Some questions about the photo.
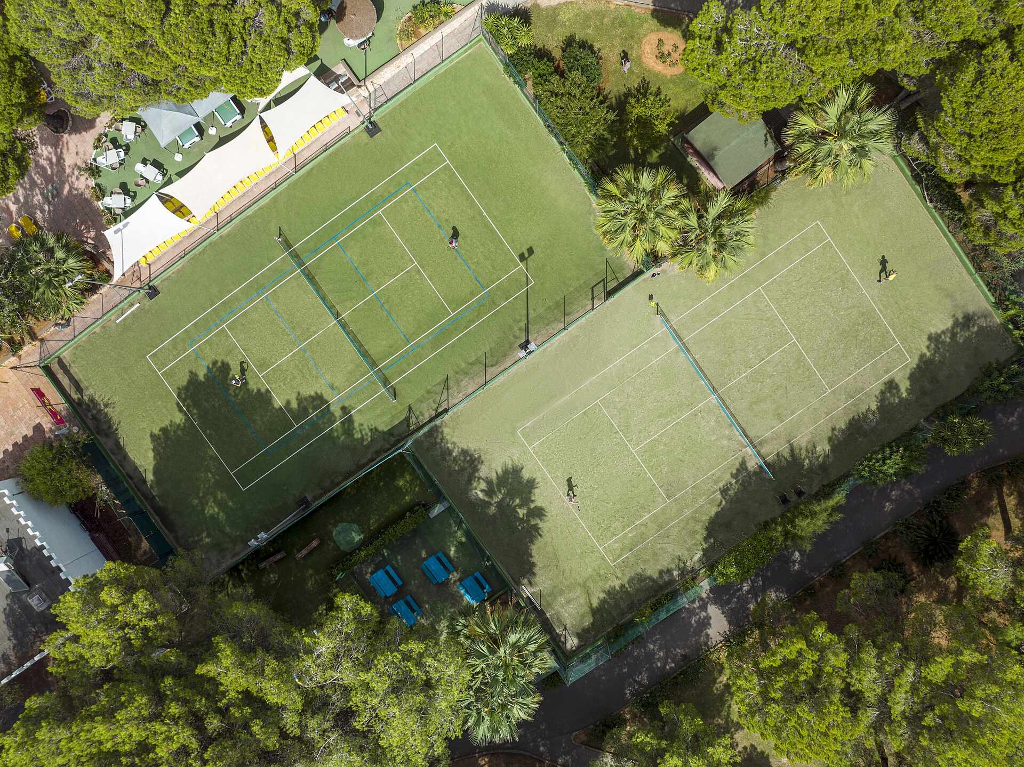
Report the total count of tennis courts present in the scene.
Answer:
2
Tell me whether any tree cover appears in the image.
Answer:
Yes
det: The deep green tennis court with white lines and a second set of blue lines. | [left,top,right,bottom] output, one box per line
[41,43,641,577]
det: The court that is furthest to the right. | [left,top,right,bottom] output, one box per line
[412,130,1019,658]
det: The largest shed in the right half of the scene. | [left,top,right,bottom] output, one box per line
[682,101,780,195]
